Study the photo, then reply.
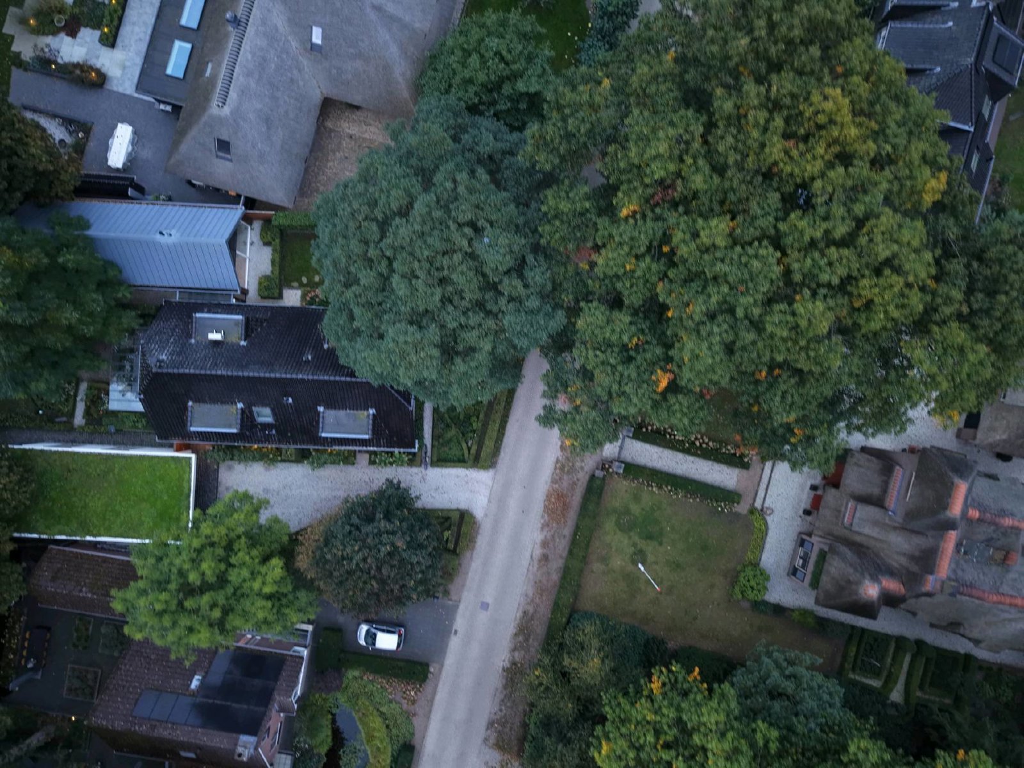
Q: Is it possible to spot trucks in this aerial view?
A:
No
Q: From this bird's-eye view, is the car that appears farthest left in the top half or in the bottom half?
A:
bottom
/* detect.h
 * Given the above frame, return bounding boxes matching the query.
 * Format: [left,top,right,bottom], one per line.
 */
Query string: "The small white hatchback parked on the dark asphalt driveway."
[355,624,404,655]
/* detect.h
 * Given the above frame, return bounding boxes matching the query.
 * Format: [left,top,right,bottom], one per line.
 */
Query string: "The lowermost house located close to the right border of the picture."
[804,440,1024,659]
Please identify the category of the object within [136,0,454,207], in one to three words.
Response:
house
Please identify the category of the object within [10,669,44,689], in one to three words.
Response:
umbrella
